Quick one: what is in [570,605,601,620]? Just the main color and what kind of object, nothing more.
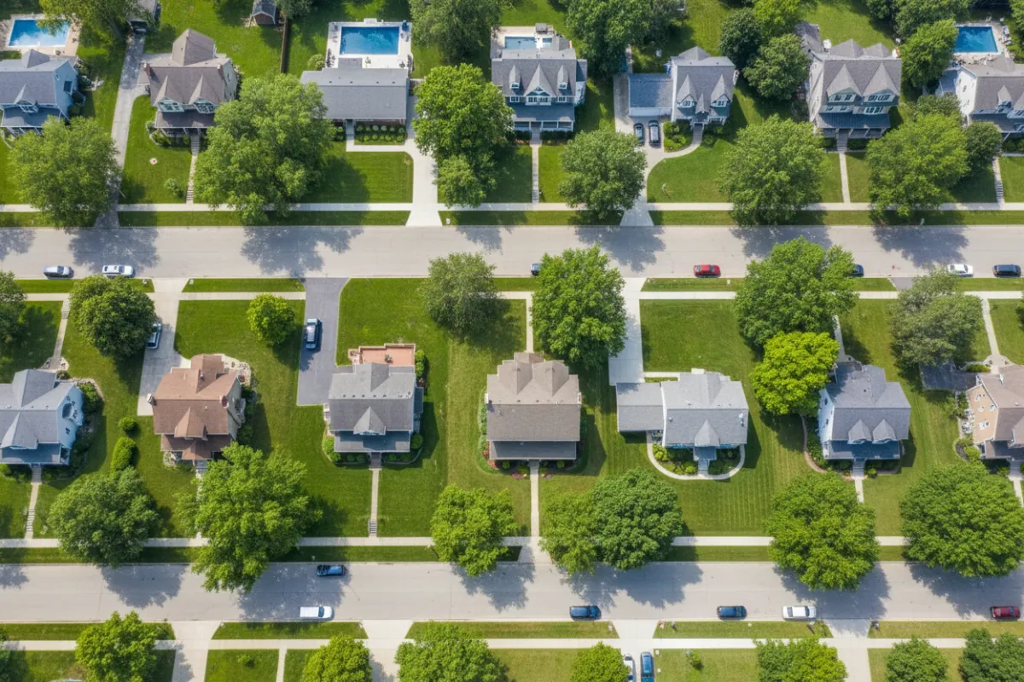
blue car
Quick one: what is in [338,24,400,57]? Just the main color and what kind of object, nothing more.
blue swimming pool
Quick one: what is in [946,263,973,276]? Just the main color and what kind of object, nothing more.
white vehicle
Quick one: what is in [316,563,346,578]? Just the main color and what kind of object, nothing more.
blue car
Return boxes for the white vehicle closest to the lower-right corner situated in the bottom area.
[782,605,816,620]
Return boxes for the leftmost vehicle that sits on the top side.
[42,265,75,278]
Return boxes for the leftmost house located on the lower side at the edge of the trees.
[0,367,94,481]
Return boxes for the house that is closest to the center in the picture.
[482,353,583,471]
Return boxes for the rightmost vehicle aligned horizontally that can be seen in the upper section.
[991,263,1021,277]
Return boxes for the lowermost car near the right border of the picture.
[989,605,1020,620]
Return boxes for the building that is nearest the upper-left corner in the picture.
[0,46,85,132]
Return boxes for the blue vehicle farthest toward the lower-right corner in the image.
[716,605,747,620]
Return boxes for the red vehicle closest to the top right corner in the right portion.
[693,264,721,276]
